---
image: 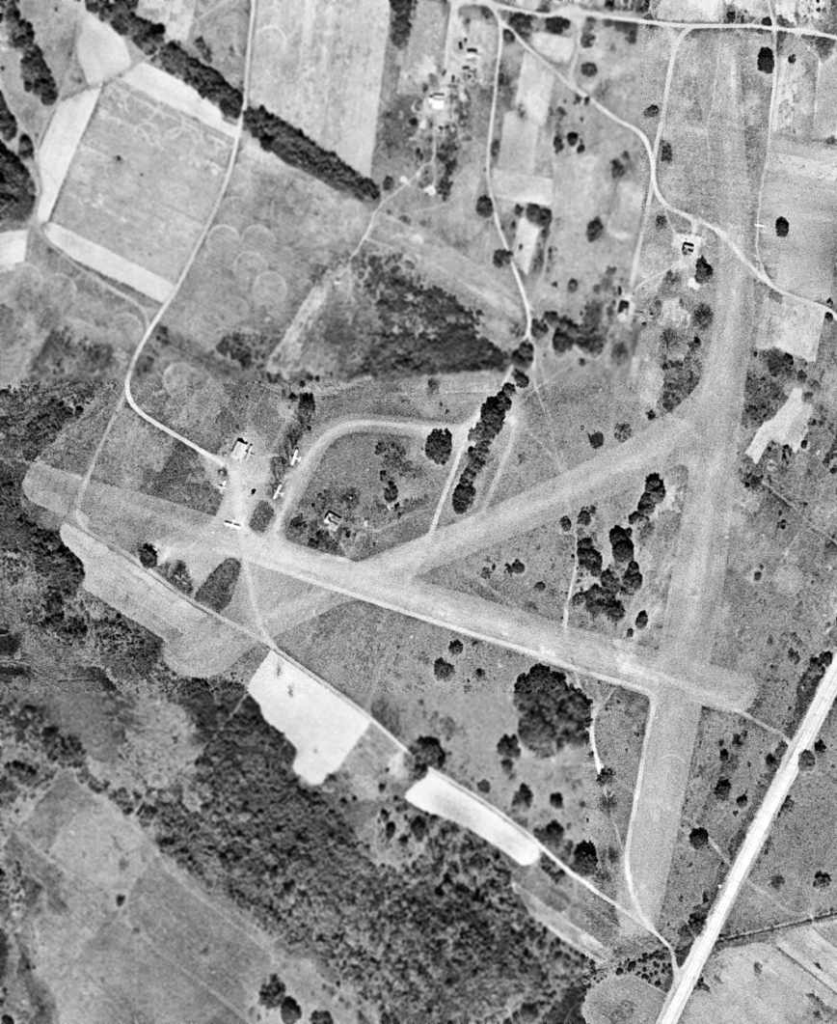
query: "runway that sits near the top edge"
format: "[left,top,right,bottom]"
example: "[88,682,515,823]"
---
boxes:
[710,30,759,268]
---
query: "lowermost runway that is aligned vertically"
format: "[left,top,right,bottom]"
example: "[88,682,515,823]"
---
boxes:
[630,239,756,925]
